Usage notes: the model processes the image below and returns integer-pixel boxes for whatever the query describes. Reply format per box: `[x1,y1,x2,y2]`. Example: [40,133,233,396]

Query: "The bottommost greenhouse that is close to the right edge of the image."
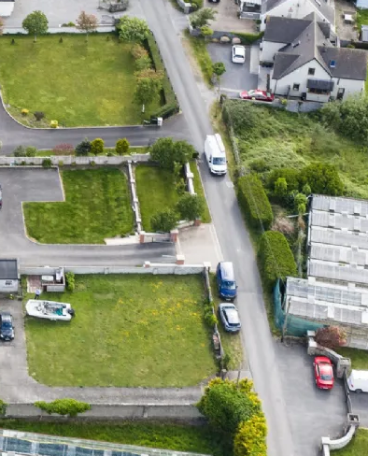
[282,278,368,346]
